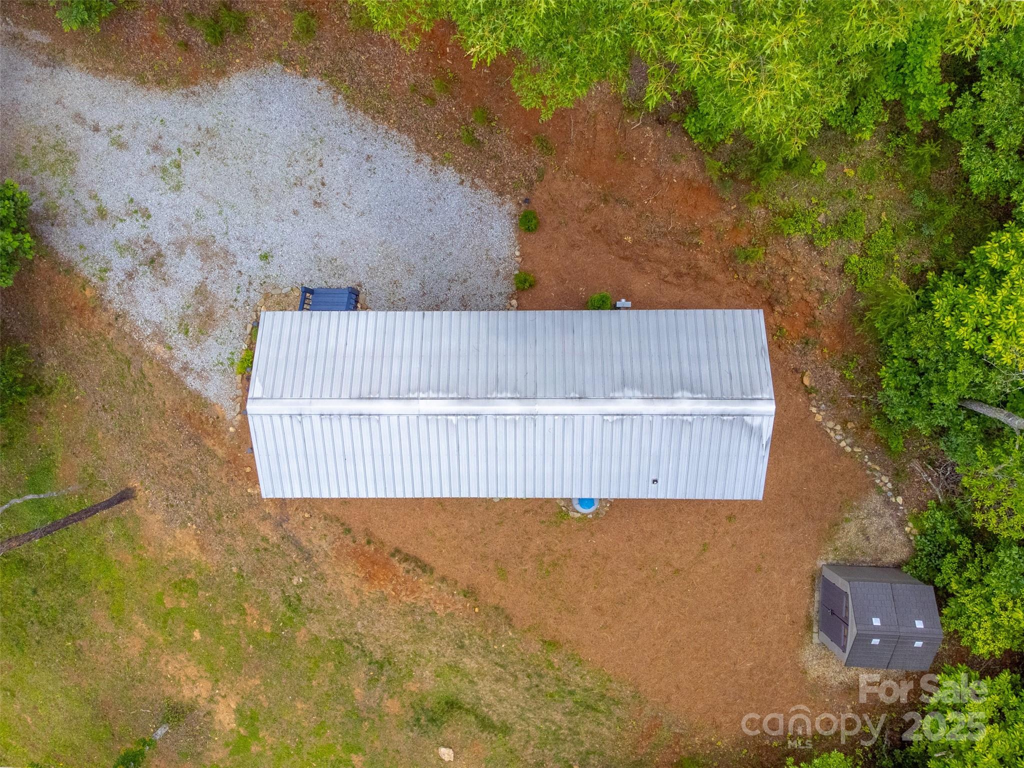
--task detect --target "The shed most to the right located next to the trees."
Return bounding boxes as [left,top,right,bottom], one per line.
[818,565,952,669]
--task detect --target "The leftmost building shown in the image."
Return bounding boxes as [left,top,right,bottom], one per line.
[245,310,778,498]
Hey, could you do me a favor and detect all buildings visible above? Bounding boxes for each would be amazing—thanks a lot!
[818,565,952,669]
[245,310,778,498]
